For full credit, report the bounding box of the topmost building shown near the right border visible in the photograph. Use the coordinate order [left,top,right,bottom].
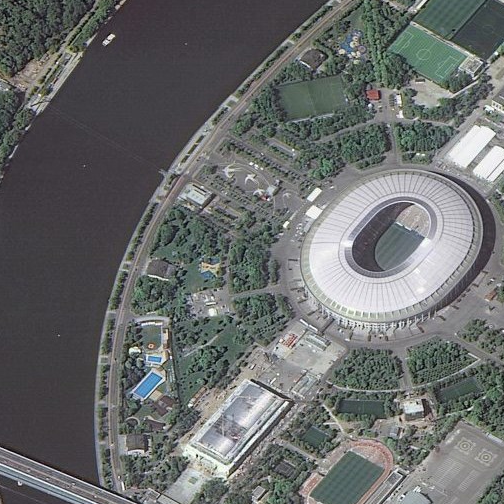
[459,56,484,76]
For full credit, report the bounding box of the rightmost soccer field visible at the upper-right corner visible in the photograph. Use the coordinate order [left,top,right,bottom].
[452,0,504,59]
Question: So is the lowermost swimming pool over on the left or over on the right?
left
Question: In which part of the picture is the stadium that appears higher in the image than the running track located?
right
